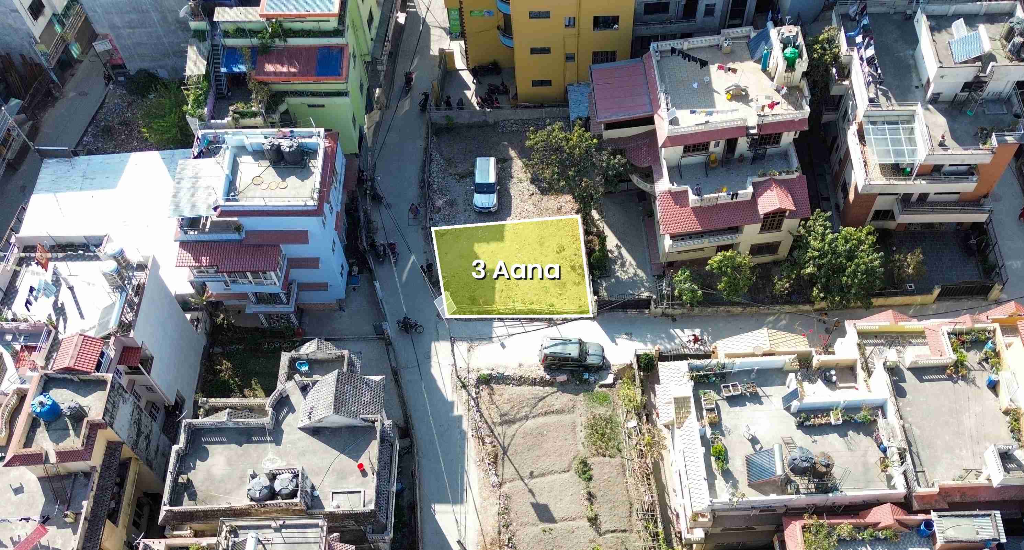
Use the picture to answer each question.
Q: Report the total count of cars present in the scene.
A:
two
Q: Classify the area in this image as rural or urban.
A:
urban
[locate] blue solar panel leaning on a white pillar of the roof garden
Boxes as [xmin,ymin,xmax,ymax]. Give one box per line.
[776,380,805,416]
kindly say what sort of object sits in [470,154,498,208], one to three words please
car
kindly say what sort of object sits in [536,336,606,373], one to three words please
car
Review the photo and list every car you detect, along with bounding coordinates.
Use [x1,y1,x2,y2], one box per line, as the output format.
[536,336,606,373]
[470,154,498,208]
